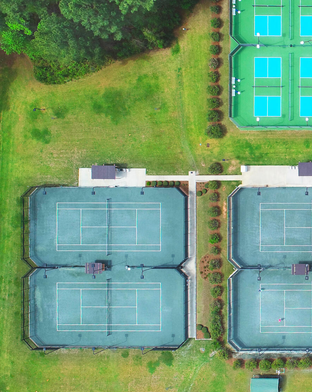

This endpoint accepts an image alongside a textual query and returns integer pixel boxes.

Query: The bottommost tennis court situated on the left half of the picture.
[29,268,184,348]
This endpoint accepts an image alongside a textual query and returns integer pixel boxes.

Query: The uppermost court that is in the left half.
[29,188,184,268]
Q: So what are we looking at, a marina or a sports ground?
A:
sports ground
